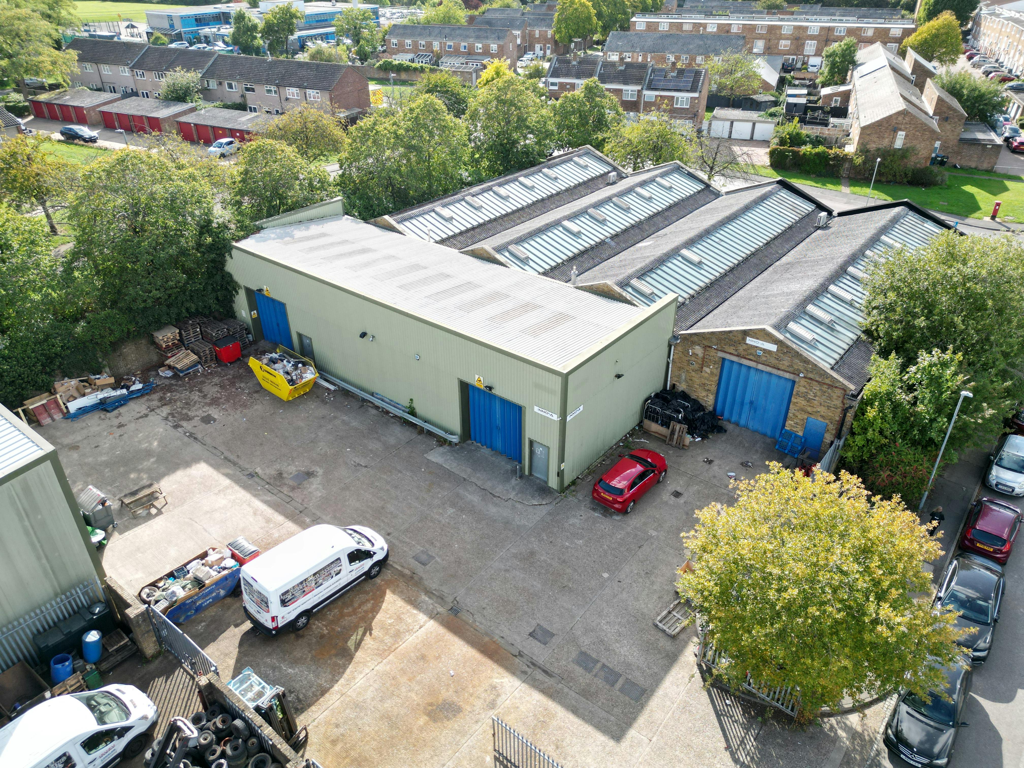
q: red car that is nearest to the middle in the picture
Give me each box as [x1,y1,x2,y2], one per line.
[590,451,666,516]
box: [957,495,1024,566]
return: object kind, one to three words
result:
car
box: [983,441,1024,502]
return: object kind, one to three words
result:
car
